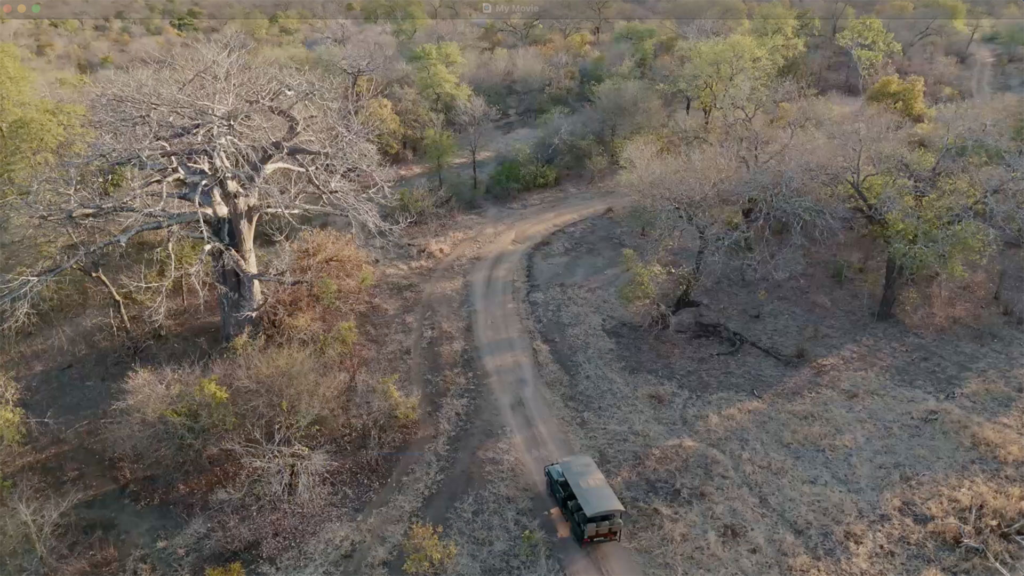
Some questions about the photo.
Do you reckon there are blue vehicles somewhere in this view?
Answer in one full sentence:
No, there is no blue vehicle in the image.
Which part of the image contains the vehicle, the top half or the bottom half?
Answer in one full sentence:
It is in the bottom half that the vehicle appears.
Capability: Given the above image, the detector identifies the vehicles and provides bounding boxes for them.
[547,451,624,547]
